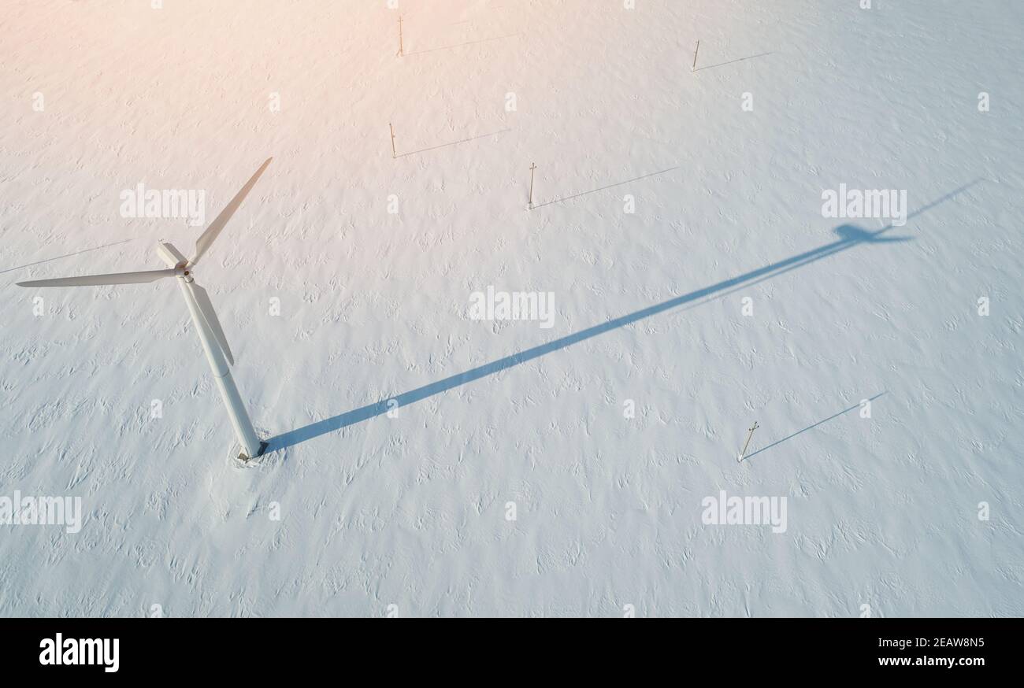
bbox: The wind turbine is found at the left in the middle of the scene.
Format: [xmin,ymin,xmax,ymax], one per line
[16,154,271,463]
